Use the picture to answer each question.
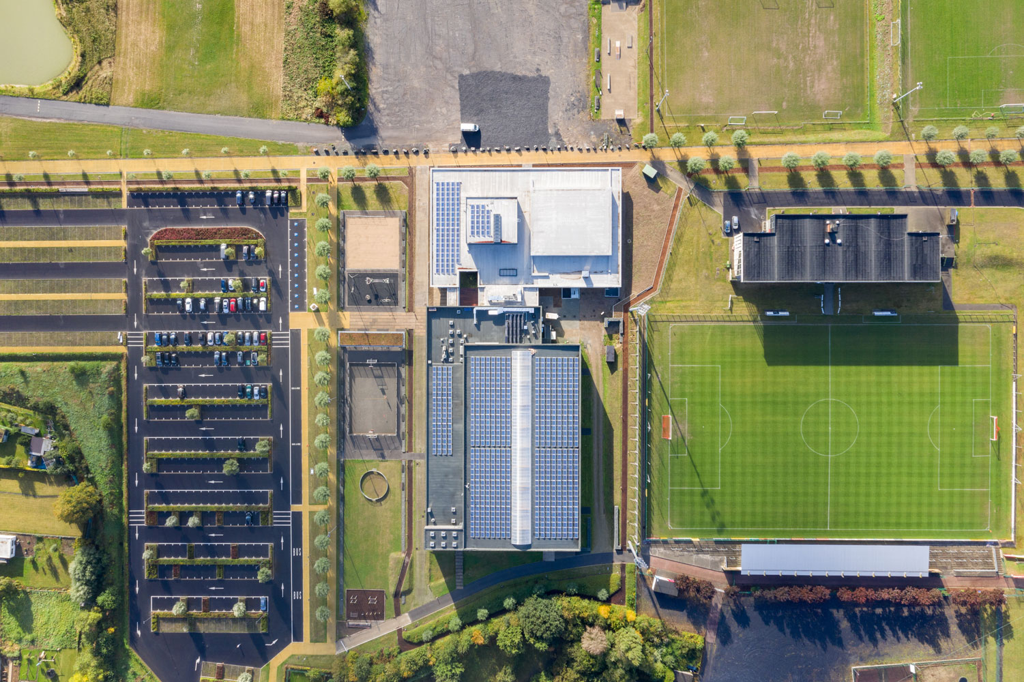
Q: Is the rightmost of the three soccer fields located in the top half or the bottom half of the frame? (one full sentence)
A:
The rightmost of the three soccer fields is in the top half of the image.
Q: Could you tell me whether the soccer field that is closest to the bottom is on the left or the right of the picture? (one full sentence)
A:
The soccer field that is closest to the bottom sits on the right side.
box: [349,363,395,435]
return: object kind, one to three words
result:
sports court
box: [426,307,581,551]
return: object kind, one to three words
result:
building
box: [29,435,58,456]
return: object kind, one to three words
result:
shed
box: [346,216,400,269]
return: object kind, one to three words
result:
sports court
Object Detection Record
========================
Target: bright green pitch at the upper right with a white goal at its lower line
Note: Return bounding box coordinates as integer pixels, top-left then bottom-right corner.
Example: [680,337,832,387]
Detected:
[900,0,1024,120]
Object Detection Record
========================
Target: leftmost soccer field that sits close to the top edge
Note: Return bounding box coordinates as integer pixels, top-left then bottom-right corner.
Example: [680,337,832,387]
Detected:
[656,0,871,127]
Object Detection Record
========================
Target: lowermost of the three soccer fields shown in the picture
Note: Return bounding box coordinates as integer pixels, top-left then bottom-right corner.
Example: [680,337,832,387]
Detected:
[648,315,1013,541]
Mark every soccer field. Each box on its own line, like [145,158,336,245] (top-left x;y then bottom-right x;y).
[900,0,1024,120]
[648,315,1013,541]
[656,0,871,127]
